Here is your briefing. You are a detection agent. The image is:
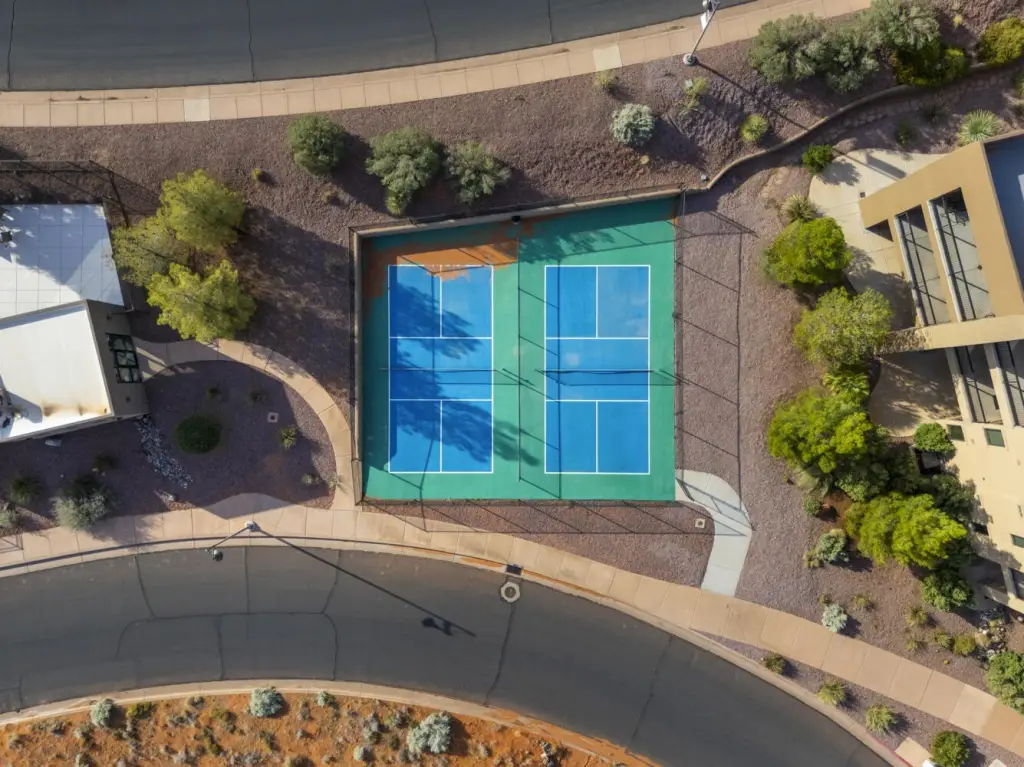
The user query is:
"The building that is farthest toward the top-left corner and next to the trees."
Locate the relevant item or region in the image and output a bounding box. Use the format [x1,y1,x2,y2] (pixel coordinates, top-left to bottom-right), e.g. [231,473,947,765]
[0,205,151,440]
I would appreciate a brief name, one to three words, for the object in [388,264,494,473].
sports court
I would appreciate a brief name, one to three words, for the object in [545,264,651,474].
sports court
